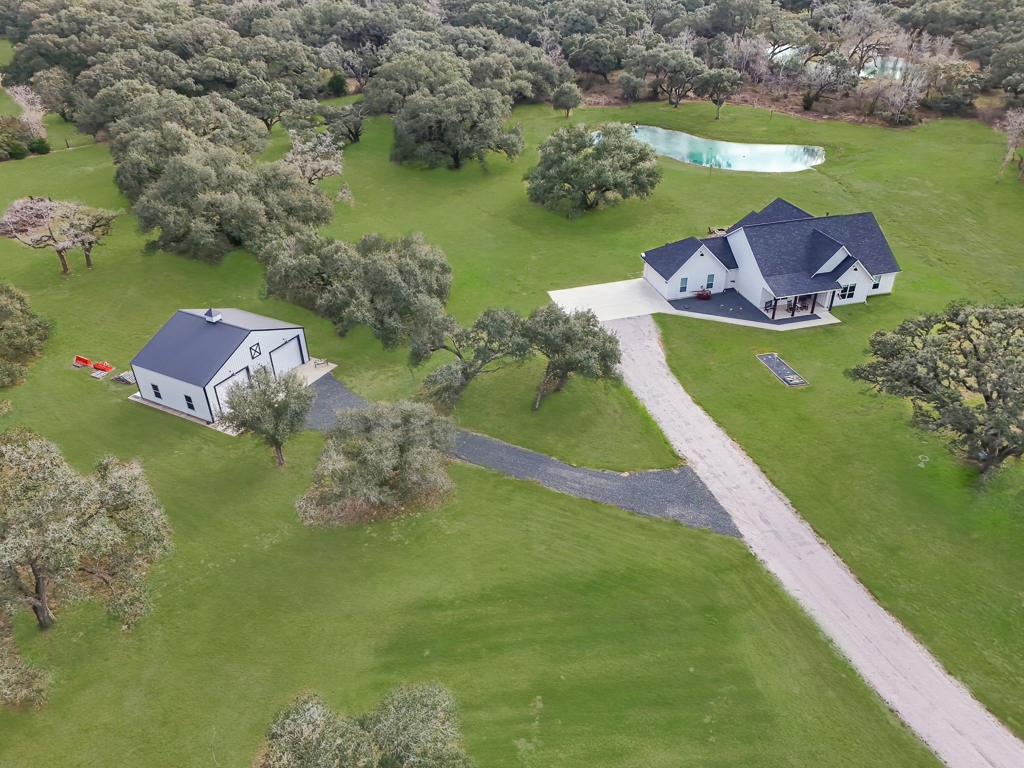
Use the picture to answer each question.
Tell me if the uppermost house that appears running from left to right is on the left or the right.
right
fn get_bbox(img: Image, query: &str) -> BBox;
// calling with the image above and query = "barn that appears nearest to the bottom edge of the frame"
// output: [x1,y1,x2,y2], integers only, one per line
[129,308,310,423]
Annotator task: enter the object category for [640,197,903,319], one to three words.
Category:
house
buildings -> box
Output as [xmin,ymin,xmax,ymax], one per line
[129,308,310,423]
[640,197,903,319]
